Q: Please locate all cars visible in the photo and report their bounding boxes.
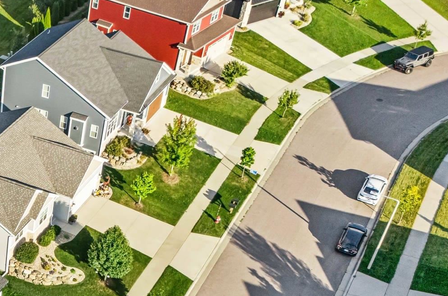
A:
[394,45,436,73]
[334,223,370,260]
[356,177,389,208]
